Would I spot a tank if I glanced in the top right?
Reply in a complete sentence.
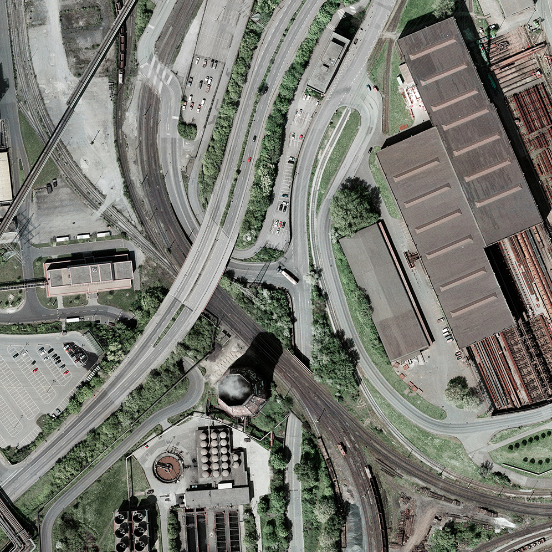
No, the scene shows no tank in the top right.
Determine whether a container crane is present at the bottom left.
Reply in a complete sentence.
No, no container crane can be made out at the bottom left.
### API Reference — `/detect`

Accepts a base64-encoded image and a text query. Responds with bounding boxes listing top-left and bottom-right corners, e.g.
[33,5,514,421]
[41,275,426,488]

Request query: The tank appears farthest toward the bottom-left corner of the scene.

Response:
[153,452,183,483]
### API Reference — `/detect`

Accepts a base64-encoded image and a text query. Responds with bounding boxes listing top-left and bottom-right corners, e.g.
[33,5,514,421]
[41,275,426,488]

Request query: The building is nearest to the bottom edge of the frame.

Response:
[184,487,250,509]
